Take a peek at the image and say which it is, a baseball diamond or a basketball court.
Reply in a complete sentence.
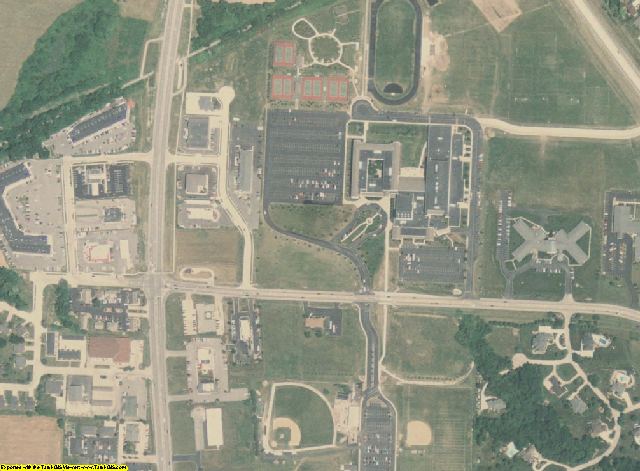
Visible in the photo is a baseball diamond.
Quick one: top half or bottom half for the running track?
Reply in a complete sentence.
Seen from above, the running track lies in the top half of the view.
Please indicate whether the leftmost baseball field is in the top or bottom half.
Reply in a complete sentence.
It is in the bottom half that the leftmost baseball field appears.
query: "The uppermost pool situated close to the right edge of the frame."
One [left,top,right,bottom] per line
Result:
[592,334,611,347]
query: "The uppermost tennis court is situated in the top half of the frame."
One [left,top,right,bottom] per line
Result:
[272,41,295,66]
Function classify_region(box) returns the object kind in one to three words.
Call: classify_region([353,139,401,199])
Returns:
building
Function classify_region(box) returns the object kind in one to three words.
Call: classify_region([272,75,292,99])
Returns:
tennis court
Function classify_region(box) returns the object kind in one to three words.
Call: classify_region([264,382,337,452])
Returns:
baseball field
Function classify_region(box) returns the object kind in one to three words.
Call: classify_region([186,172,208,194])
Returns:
building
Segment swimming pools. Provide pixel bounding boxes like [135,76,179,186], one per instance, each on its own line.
[592,334,611,347]
[616,372,631,385]
[503,441,519,459]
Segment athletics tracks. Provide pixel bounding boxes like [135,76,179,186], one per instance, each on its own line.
[369,0,421,104]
